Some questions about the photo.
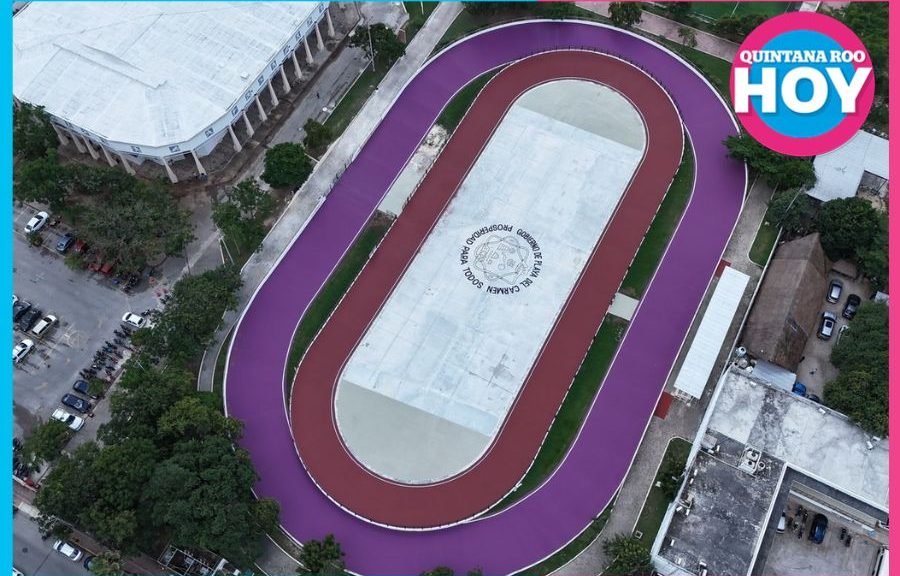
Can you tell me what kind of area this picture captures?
sports ground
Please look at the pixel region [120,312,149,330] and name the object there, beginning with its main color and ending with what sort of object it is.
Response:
white car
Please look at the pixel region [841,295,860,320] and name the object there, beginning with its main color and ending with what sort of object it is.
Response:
black car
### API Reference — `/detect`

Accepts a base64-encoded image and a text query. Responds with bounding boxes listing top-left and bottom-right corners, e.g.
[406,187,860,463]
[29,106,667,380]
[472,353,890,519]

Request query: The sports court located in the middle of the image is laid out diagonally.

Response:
[333,78,646,484]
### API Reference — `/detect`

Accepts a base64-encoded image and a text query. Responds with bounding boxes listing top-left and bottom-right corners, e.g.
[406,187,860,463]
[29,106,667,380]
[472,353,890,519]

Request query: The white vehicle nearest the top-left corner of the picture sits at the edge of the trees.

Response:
[23,212,51,234]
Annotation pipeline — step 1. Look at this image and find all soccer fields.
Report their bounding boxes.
[691,0,797,38]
